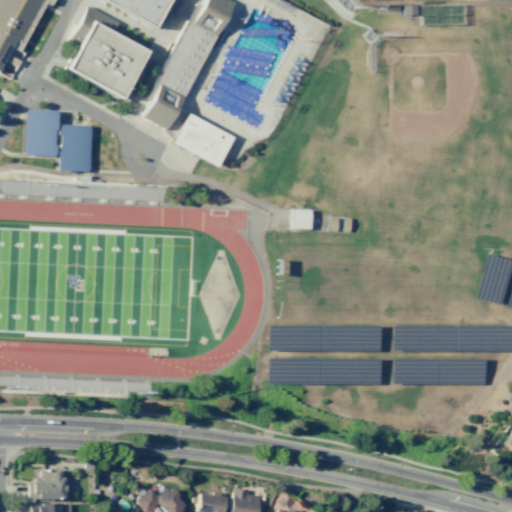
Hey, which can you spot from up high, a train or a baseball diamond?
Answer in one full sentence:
Looking from above, you can make out a baseball diamond.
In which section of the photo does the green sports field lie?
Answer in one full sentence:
The green sports field is located in the left region of the scene.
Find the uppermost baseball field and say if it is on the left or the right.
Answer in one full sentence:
The uppermost baseball field sits on the right side.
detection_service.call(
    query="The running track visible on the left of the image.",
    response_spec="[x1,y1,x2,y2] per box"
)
[0,201,264,378]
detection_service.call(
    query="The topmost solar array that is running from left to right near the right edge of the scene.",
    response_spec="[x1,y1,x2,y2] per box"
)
[394,326,512,352]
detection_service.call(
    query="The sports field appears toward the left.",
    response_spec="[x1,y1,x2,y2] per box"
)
[0,221,244,358]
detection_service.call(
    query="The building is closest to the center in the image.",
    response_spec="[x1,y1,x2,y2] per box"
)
[288,208,314,230]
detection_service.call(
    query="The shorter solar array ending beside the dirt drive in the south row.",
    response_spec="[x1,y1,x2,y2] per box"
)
[394,360,488,385]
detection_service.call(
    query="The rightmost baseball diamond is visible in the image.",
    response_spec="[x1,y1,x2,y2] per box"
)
[384,47,479,142]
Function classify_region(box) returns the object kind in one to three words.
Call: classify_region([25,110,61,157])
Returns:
building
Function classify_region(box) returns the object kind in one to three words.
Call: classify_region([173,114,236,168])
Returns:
building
